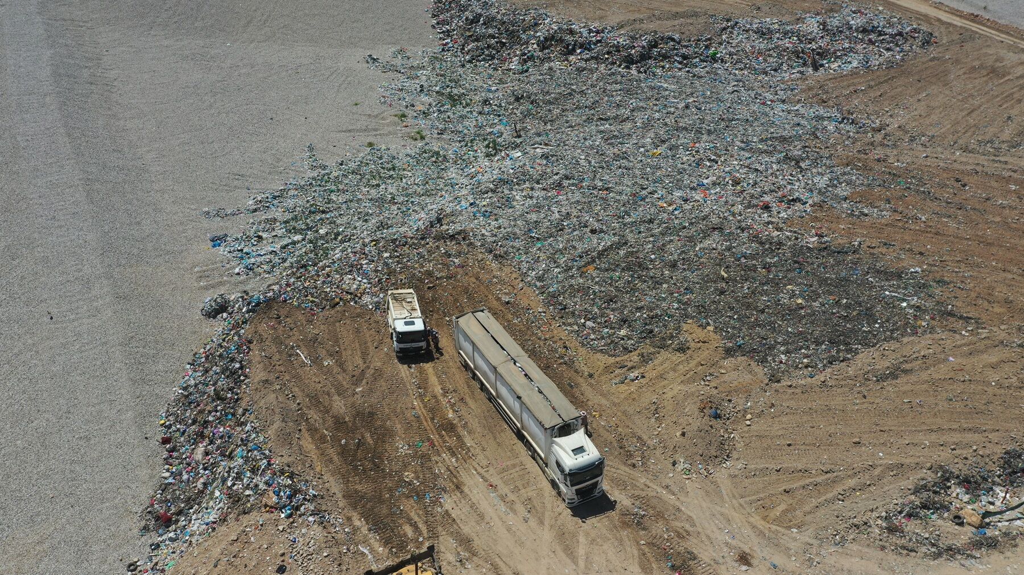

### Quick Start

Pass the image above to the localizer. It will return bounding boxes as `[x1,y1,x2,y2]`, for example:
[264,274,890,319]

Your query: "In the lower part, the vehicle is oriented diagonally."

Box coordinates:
[455,309,609,503]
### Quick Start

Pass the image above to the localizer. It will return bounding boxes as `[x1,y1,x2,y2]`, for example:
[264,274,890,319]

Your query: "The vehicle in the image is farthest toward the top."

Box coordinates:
[385,286,429,358]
